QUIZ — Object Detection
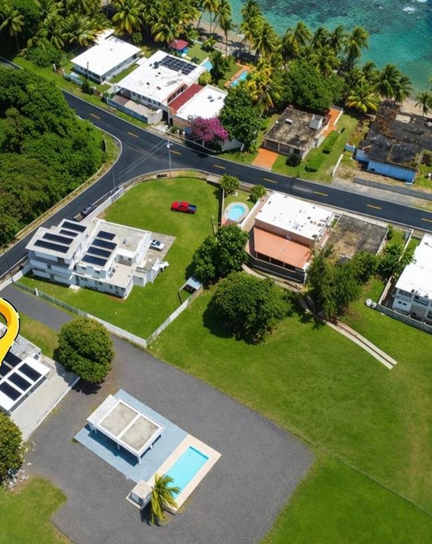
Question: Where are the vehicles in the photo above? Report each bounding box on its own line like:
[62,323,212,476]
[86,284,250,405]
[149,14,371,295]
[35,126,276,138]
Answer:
[77,202,99,217]
[149,236,170,250]
[170,201,198,214]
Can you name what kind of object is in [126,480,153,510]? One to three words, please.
shed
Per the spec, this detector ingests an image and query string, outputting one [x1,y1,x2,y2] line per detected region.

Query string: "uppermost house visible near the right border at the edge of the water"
[354,110,432,185]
